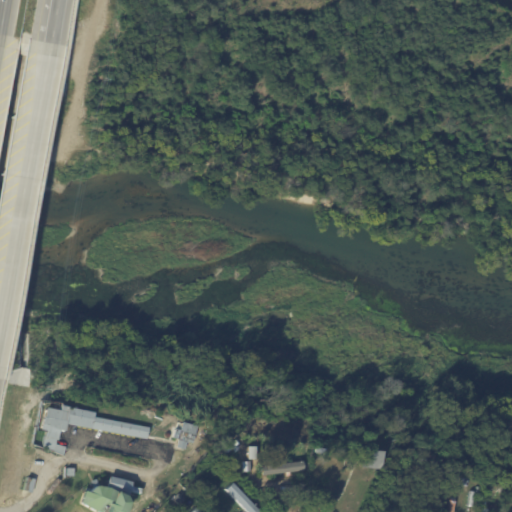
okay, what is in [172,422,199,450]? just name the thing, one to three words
house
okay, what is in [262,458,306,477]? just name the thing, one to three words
house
